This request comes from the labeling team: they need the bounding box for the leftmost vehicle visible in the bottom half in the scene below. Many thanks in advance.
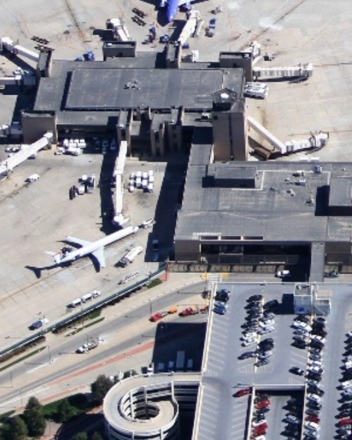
[30,315,45,329]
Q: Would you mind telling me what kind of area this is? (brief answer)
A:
airport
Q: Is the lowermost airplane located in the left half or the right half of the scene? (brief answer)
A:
left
